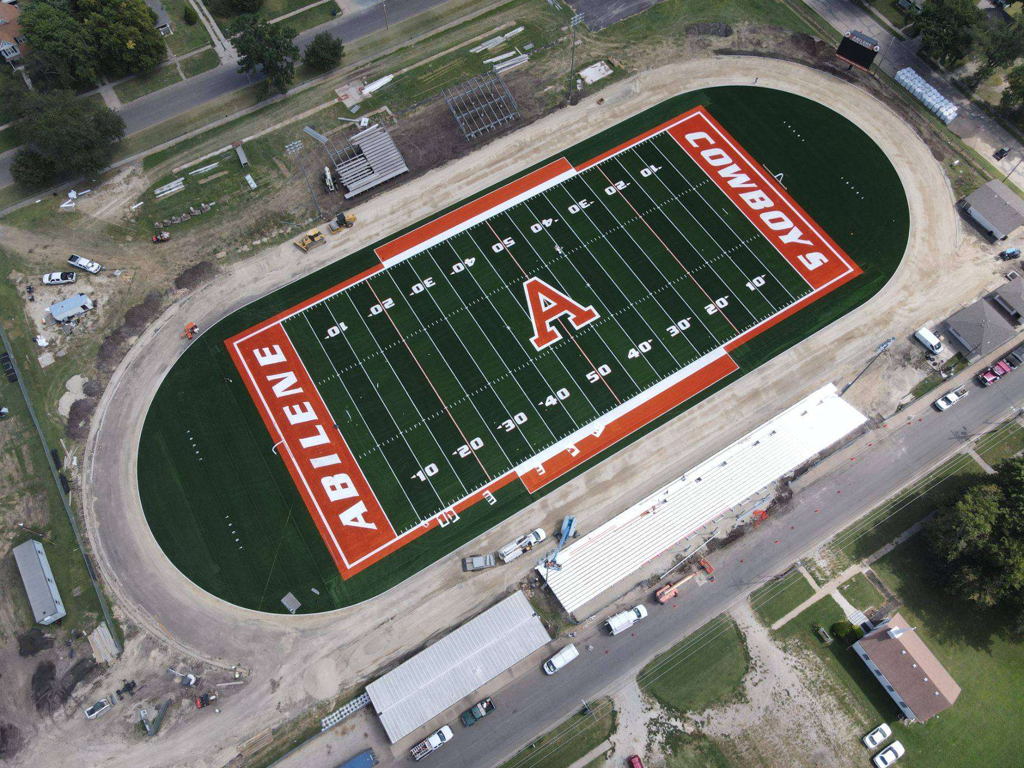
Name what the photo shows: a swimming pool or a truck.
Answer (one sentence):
The image shows a truck.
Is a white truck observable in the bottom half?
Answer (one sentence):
Yes, you'll find a white truck in the bottom half.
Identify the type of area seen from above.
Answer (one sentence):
What you see here is a sports ground.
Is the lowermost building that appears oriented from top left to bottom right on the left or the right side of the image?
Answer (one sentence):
The lowermost building that appears oriented from top left to bottom right appears in the right half of the scene.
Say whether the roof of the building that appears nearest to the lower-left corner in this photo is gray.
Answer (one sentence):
Yes, the roof of the building that appears nearest to the lower-left corner appears gray.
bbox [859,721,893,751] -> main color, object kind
white car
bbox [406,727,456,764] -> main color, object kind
white truck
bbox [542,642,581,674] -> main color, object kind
white van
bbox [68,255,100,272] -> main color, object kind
white vehicle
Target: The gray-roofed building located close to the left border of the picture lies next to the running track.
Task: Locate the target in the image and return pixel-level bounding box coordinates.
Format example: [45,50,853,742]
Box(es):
[14,537,65,630]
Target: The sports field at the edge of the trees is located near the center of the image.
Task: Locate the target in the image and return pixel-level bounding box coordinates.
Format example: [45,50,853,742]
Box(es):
[138,86,909,615]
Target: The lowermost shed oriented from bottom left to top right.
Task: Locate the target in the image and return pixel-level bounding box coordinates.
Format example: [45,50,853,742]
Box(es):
[366,590,551,742]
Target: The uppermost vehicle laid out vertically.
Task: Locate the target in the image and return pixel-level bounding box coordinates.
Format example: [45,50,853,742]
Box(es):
[321,164,335,197]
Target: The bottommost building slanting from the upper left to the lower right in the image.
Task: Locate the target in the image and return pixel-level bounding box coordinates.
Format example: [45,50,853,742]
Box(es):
[846,611,962,722]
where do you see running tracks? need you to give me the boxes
[80,49,961,682]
